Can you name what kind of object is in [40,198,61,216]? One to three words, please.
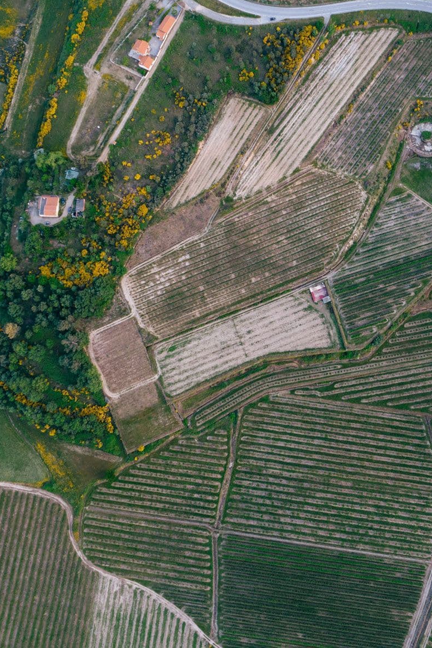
house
